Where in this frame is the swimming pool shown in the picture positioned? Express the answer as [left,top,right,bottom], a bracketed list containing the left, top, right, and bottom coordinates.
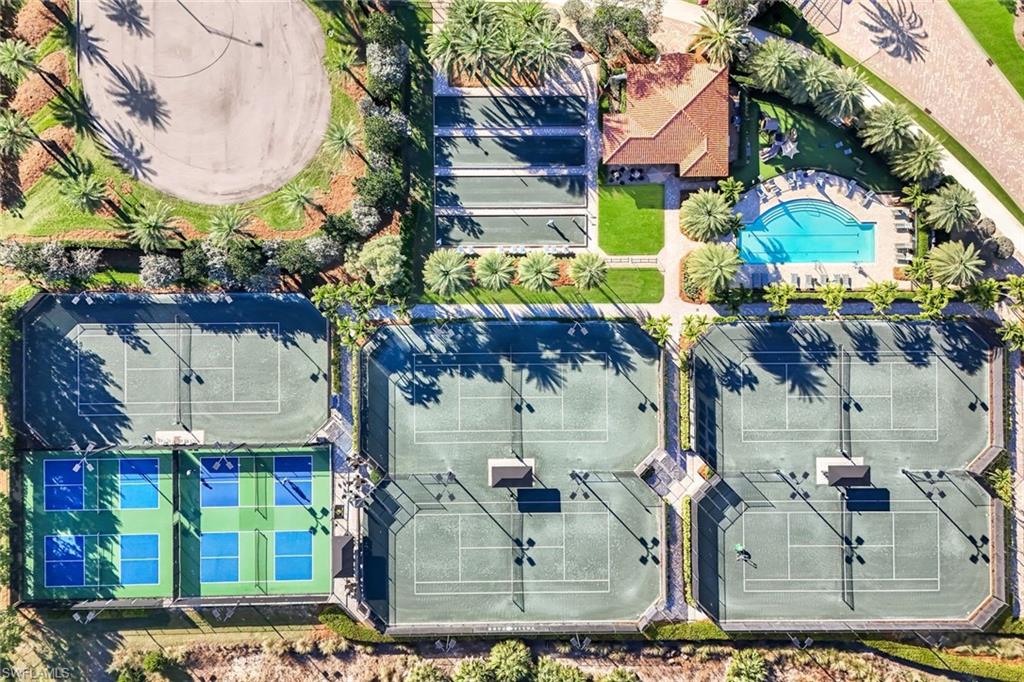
[738,198,877,265]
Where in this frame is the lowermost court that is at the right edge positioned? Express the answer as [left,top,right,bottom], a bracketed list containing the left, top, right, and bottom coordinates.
[701,471,990,622]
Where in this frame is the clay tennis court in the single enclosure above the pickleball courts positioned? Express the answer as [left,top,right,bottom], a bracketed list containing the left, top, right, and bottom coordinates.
[23,293,326,446]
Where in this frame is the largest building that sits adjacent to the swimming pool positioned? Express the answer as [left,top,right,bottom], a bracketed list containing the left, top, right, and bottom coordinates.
[603,52,729,177]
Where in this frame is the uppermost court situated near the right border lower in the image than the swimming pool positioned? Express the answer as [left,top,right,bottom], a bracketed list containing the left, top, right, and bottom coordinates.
[697,324,990,478]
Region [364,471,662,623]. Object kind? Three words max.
tennis court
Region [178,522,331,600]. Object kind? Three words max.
sports court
